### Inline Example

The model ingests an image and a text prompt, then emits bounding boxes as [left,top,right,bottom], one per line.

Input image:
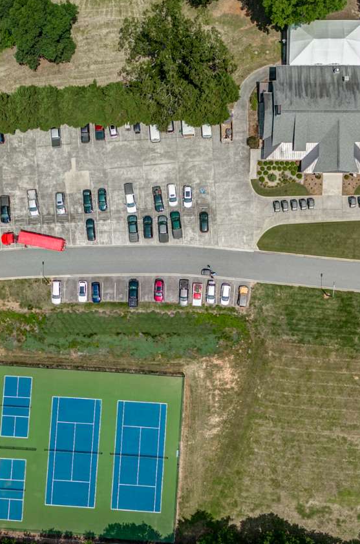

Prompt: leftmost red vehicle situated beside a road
[0,231,25,245]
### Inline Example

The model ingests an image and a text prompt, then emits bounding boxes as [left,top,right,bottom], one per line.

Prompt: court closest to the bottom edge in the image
[0,458,26,522]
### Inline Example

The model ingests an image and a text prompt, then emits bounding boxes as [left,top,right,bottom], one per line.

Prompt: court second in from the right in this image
[46,396,101,509]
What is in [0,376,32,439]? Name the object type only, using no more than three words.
sports court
